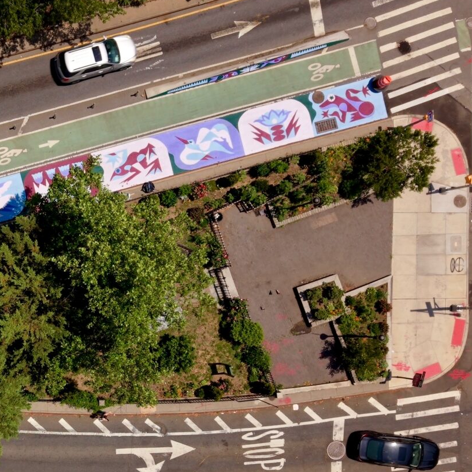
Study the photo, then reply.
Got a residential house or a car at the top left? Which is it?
car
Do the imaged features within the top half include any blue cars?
No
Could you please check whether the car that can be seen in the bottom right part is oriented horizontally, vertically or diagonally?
horizontally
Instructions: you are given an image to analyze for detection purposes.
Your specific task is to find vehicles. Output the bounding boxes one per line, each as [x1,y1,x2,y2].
[346,425,439,471]
[45,29,140,85]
